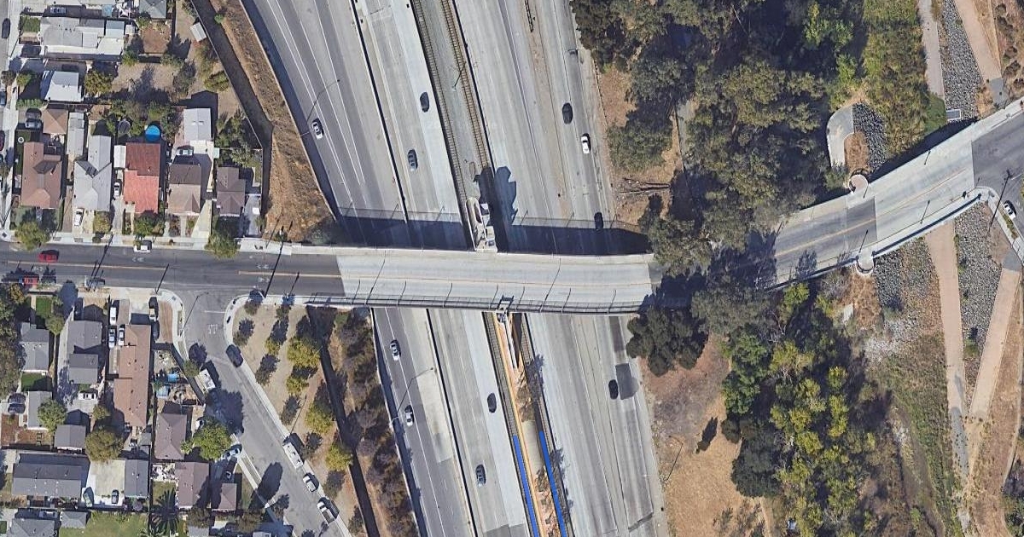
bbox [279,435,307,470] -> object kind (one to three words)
camper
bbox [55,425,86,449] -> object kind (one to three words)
building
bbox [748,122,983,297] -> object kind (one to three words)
bridge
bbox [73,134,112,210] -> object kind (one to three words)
house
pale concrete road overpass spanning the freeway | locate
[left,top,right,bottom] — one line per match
[292,245,655,315]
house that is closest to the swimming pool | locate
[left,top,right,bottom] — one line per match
[124,142,160,213]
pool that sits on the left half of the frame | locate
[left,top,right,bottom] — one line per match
[144,124,162,142]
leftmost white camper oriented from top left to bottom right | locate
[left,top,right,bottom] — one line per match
[197,368,217,393]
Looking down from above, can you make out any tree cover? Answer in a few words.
Yes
